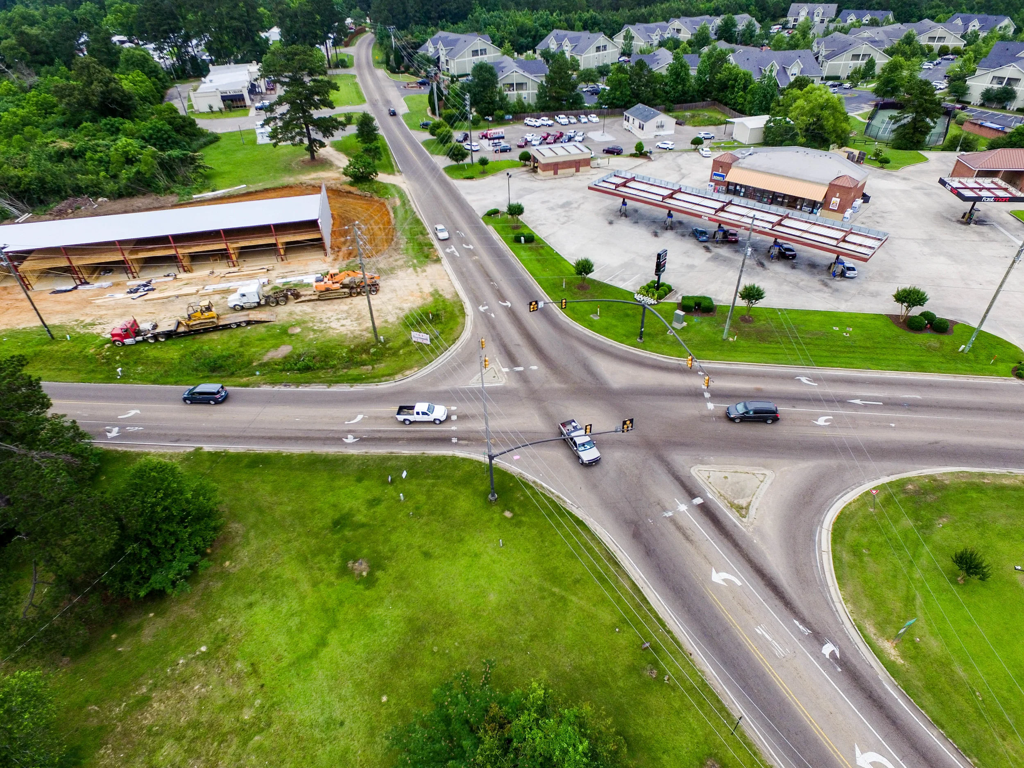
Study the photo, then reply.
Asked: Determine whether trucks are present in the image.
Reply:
Yes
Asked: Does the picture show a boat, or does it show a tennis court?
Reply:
tennis court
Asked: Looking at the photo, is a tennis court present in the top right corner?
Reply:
Yes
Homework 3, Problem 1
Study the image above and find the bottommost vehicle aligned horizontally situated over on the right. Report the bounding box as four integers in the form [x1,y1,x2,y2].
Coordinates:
[726,400,780,424]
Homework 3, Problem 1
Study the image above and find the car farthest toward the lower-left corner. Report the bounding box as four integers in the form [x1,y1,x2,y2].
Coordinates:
[177,382,228,405]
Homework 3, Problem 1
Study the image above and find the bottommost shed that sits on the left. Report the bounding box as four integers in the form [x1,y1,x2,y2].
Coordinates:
[0,183,331,292]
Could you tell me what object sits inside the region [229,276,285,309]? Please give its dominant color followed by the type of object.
white truck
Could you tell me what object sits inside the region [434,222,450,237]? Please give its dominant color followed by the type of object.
white car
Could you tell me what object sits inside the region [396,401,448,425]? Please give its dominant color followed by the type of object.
white truck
